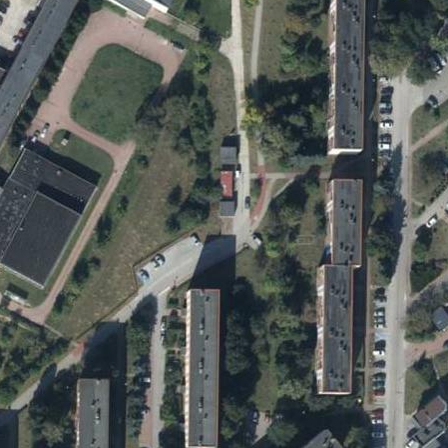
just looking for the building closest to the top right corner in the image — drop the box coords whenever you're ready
[328,0,366,155]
